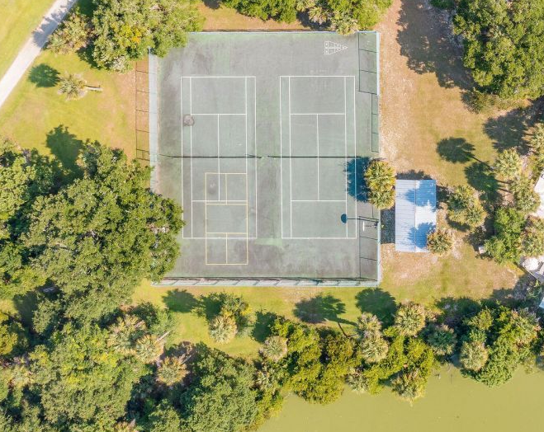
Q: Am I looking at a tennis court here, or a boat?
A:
tennis court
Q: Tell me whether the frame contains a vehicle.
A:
No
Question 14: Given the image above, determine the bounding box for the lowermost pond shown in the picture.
[253,363,544,432]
